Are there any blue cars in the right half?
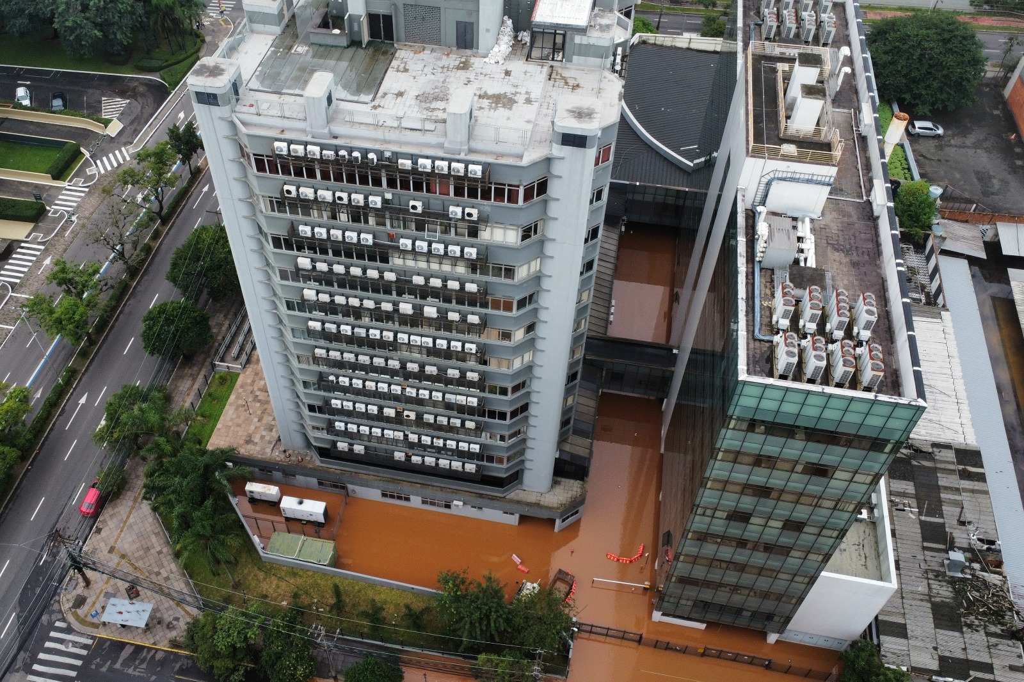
No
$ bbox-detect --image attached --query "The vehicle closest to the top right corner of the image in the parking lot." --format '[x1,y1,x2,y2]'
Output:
[907,117,945,137]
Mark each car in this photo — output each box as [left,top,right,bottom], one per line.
[11,86,36,104]
[907,117,945,137]
[47,90,72,110]
[75,479,109,521]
